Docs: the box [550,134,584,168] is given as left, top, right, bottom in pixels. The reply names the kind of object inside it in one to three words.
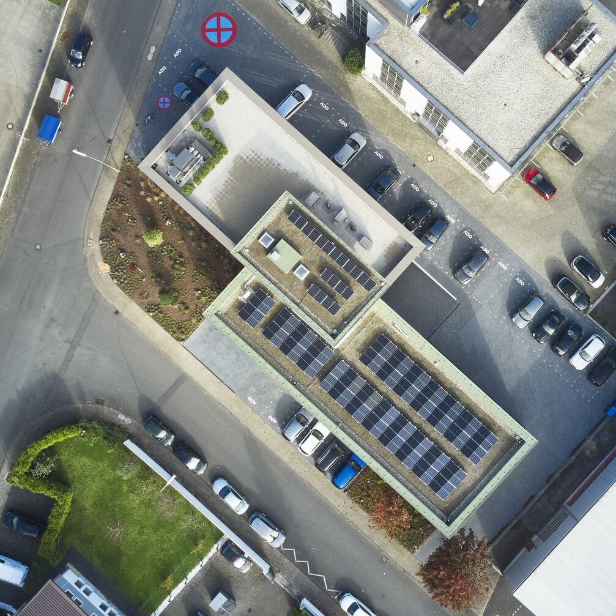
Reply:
car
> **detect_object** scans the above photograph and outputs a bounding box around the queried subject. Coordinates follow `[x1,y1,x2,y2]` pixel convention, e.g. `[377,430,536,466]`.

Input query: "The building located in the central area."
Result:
[140,69,538,539]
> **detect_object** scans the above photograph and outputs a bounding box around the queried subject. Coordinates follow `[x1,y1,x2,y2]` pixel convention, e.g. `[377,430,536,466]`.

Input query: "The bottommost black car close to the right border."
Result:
[588,347,616,387]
